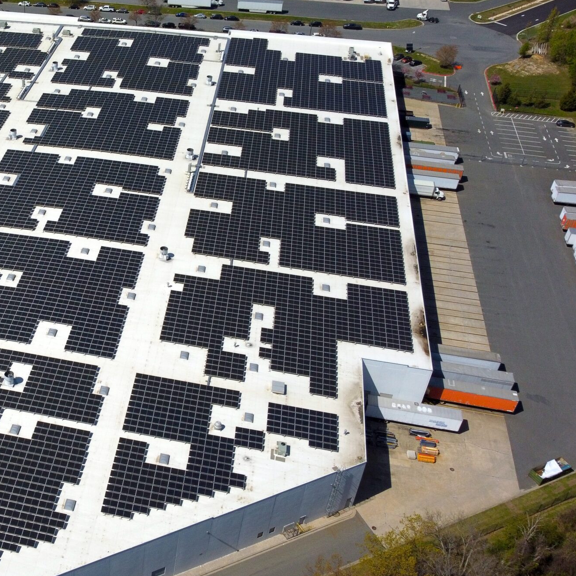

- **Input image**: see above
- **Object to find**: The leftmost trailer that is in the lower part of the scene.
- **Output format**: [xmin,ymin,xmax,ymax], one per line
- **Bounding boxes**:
[365,395,463,431]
